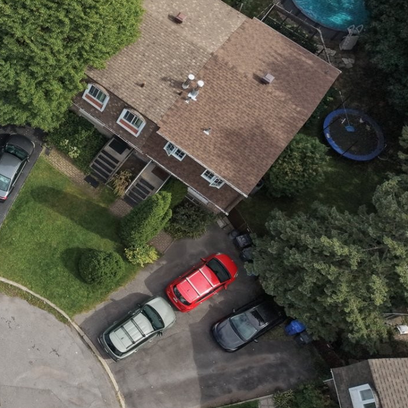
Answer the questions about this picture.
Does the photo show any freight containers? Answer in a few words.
No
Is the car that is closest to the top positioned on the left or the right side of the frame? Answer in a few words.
left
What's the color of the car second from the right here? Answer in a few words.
red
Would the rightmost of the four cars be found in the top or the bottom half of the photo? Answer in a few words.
bottom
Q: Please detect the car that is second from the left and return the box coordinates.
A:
[98,295,179,363]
